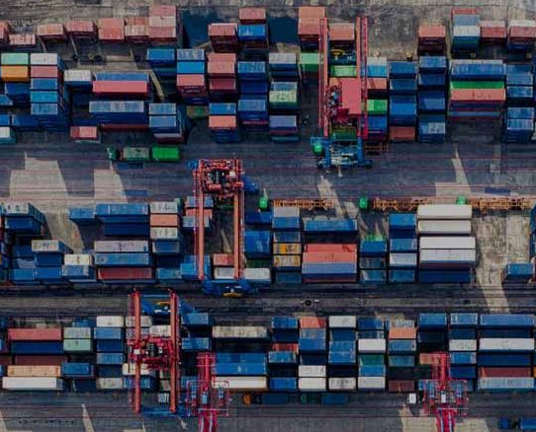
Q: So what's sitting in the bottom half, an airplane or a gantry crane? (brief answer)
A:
gantry crane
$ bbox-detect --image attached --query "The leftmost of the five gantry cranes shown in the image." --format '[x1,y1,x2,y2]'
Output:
[128,291,197,423]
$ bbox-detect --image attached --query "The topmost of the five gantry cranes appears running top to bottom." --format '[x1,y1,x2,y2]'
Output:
[310,18,374,169]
